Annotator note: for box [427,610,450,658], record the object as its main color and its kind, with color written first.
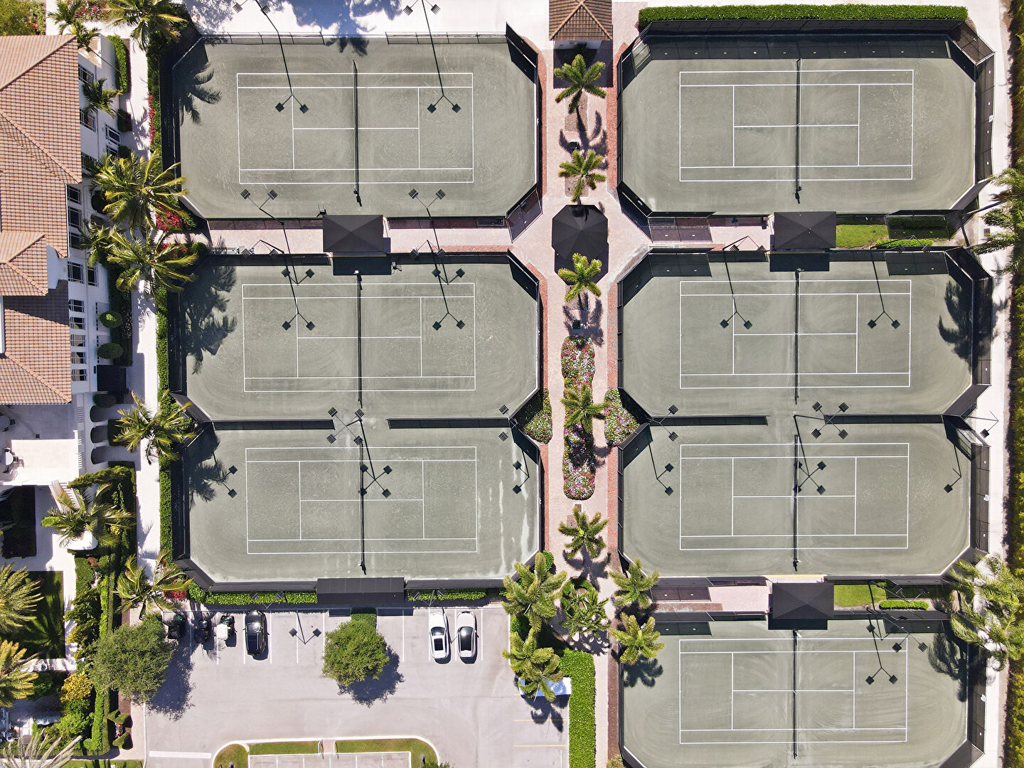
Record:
white car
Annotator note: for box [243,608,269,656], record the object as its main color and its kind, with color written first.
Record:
black car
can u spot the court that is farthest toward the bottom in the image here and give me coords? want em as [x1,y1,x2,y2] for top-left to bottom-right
[622,616,968,768]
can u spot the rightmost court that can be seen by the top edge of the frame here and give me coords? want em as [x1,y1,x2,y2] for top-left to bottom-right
[618,35,976,218]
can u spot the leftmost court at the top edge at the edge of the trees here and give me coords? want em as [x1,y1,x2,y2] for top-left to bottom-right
[174,35,537,216]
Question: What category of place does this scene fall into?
sports ground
